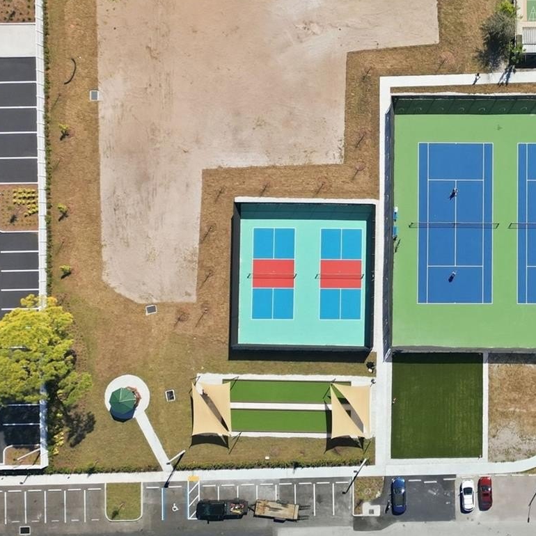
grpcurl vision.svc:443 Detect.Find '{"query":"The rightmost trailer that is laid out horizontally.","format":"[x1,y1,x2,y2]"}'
[248,499,308,519]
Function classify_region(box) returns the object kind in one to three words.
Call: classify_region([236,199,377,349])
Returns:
sports court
